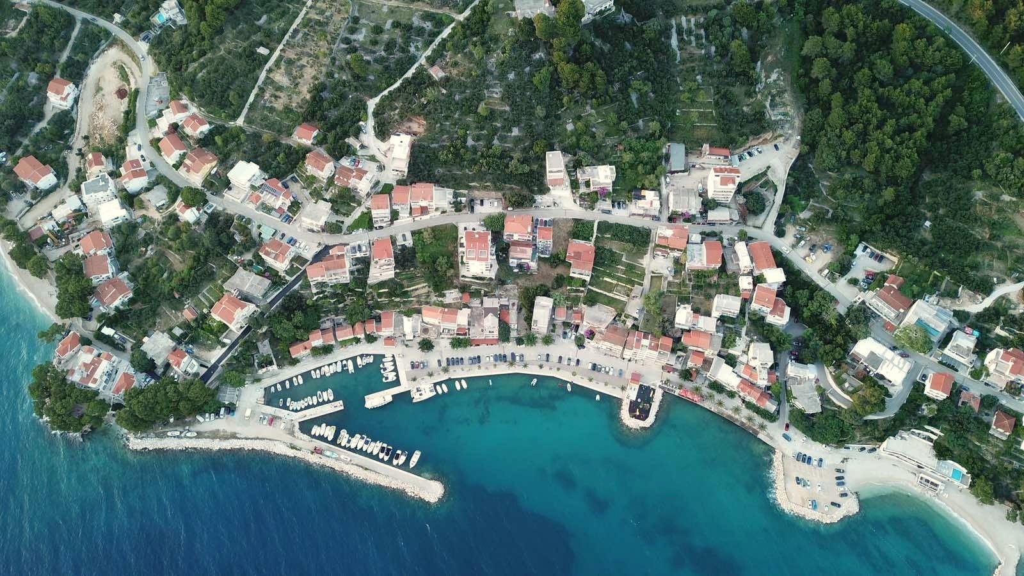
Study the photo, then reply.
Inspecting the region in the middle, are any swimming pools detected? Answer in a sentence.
No, the scene shows no swimming pool in the middle.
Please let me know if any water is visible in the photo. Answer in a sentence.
Yes, water can be seen from above here.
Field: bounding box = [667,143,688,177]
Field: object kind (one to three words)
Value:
shed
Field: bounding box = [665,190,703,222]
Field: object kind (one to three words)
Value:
building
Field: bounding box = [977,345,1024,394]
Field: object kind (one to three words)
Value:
house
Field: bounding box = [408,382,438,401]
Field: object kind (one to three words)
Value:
boat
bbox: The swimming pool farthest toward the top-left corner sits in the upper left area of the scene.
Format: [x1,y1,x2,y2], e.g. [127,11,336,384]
[151,11,169,31]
